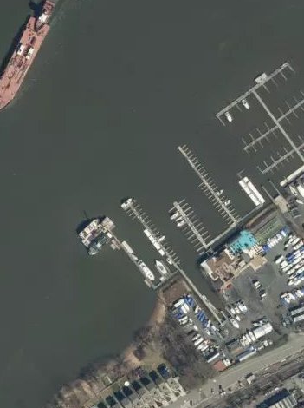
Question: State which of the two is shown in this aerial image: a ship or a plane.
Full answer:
Visible in the photo is a ship.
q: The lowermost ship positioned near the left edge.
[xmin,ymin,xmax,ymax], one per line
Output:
[0,17,50,109]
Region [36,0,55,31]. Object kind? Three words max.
boat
